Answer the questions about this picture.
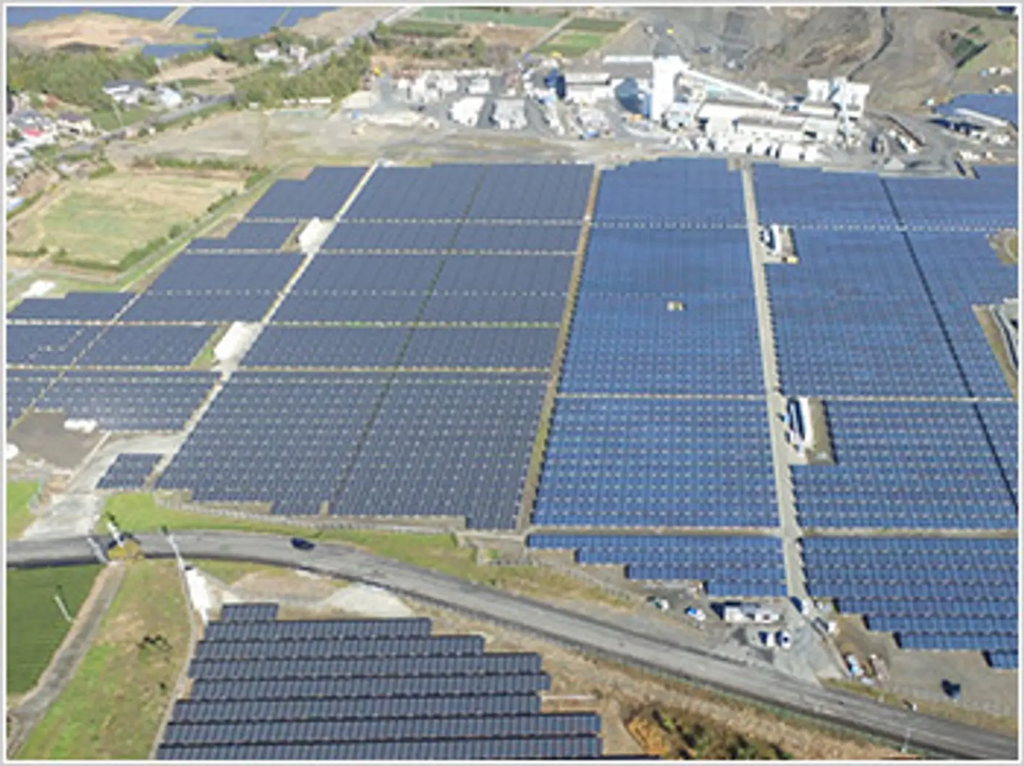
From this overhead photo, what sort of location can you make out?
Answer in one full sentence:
This looks like a solar farm.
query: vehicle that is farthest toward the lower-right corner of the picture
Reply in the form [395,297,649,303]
[941,679,965,702]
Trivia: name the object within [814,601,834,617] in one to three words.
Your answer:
car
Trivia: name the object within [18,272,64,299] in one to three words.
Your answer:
shed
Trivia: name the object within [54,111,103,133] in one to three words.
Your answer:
house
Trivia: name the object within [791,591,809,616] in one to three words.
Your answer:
vehicle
